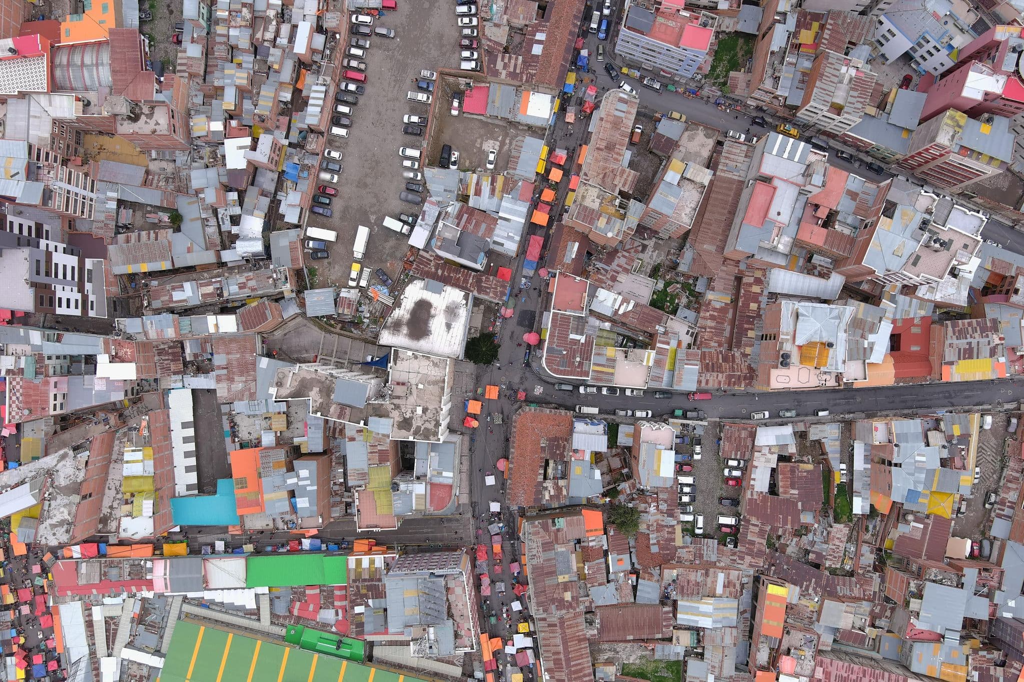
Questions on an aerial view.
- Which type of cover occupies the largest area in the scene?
buildings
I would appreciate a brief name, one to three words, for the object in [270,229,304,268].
house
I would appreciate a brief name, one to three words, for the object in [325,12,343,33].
shed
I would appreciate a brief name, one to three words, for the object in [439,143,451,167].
vehicle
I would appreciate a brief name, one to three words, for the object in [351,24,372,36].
vehicle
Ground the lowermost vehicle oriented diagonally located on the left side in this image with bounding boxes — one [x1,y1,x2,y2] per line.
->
[374,267,394,288]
